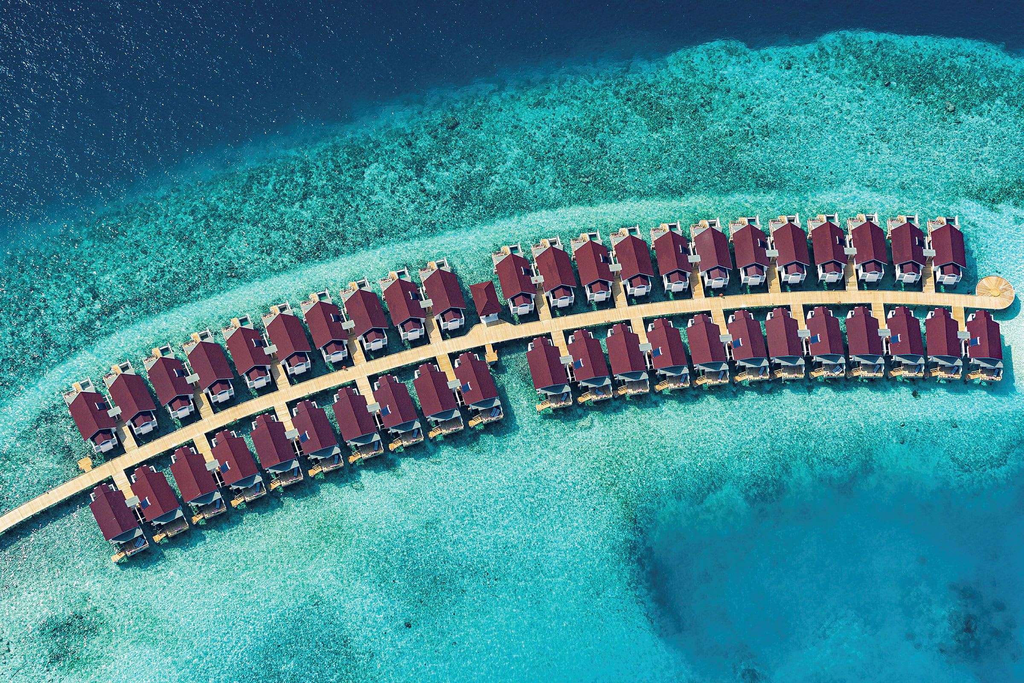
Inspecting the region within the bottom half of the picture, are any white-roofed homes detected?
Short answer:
No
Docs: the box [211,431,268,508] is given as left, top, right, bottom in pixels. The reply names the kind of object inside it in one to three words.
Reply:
house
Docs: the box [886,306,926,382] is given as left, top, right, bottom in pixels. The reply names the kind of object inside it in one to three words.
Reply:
house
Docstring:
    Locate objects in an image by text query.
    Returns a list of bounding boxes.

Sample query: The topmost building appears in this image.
[470,280,501,323]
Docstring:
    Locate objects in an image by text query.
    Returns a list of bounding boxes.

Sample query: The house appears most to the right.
[965,310,1004,385]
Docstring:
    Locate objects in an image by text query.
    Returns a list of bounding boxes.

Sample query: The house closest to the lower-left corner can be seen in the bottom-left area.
[89,485,149,563]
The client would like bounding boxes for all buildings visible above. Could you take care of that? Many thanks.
[923,308,962,383]
[211,431,268,508]
[526,337,573,414]
[454,352,505,428]
[567,330,613,406]
[470,280,501,323]
[332,388,384,464]
[687,314,730,390]
[806,306,846,382]
[727,310,770,386]
[131,466,190,543]
[886,306,926,382]
[373,375,425,452]
[647,318,691,395]
[965,310,1004,385]
[765,308,805,384]
[292,401,345,478]
[413,364,464,439]
[89,485,149,563]
[170,447,227,524]
[845,307,885,382]
[250,415,304,491]
[606,324,650,400]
